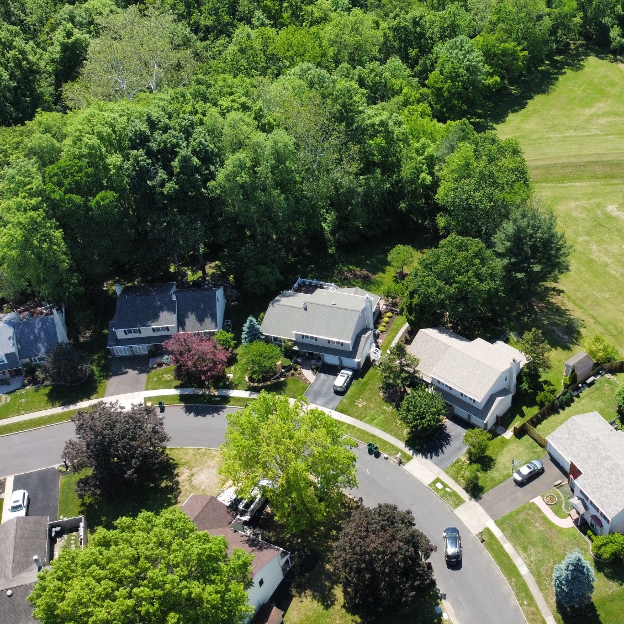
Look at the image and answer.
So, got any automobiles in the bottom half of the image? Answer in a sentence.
Yes, you'll find an automobile in the bottom half of the image.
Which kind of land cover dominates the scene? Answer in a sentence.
The scene is dominated by trees.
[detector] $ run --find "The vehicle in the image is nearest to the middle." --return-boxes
[330,367,353,393]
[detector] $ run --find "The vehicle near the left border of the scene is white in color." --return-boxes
[7,486,31,519]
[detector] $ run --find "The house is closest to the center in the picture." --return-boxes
[256,276,383,369]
